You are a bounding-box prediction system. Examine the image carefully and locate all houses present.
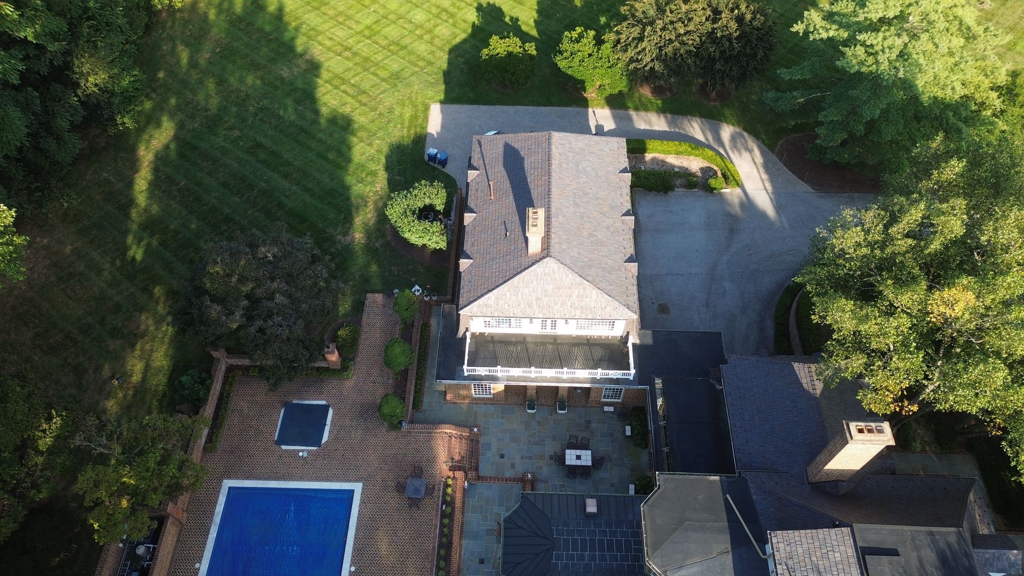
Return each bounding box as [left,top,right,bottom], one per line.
[641,323,1024,576]
[436,130,649,405]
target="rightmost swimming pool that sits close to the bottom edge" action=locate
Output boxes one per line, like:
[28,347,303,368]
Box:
[198,480,362,576]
